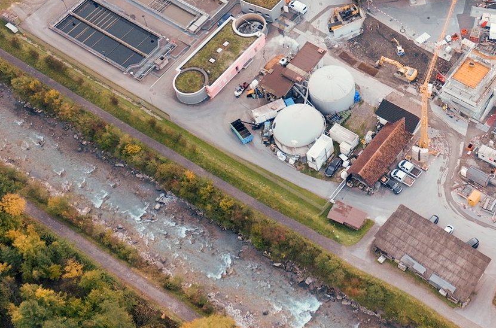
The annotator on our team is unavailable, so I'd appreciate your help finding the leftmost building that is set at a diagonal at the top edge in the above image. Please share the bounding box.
[172,12,267,105]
